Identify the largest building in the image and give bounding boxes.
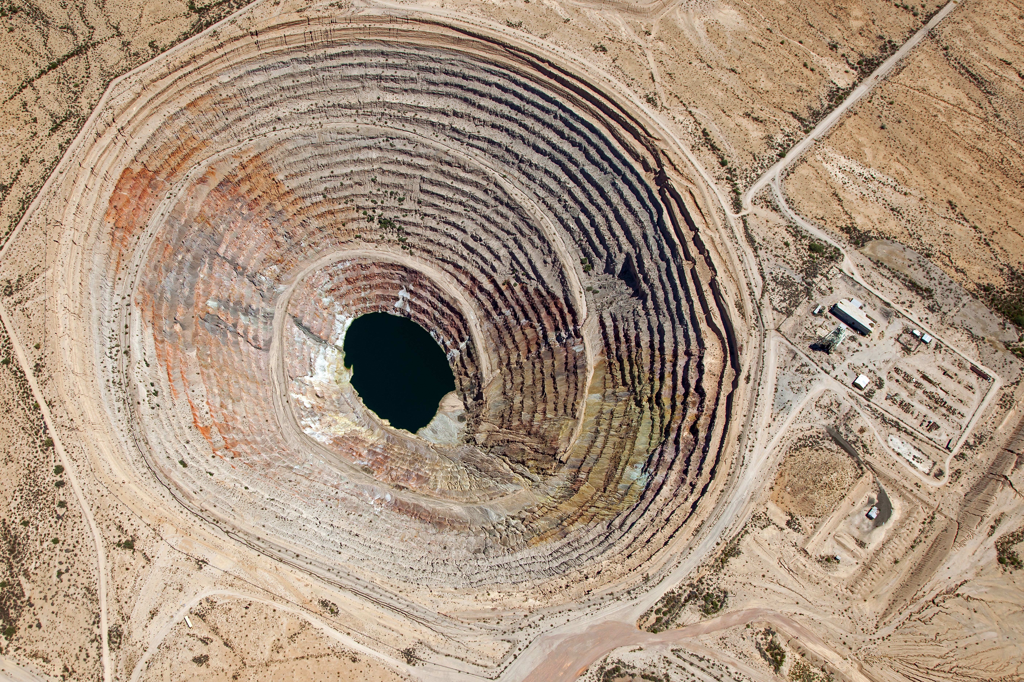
[835,299,876,334]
